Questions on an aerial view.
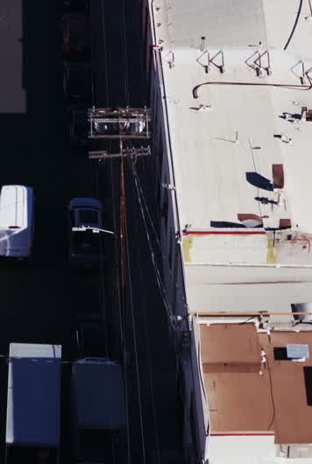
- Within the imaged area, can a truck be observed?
Yes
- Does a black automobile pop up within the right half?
No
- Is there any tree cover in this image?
No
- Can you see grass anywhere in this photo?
No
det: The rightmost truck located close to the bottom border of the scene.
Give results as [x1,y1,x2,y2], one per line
[68,358,128,464]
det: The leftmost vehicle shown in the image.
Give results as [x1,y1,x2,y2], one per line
[0,190,32,264]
